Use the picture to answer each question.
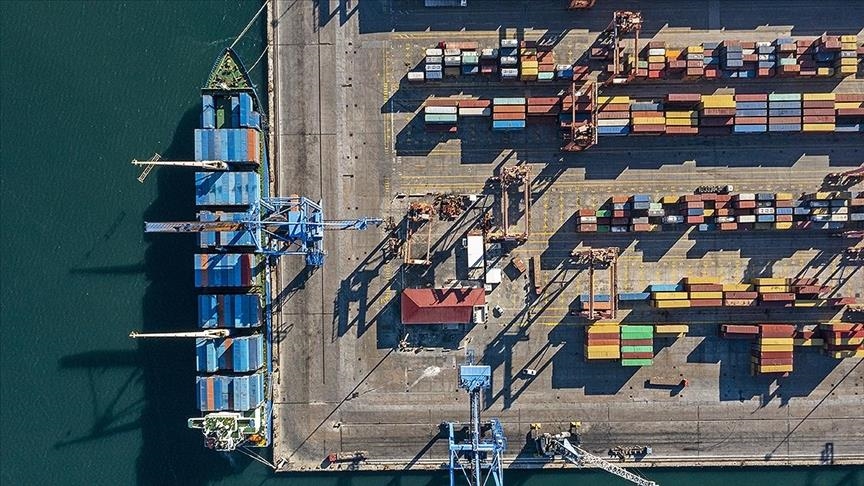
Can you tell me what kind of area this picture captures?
port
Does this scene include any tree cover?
No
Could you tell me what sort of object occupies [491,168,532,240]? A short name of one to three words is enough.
container crane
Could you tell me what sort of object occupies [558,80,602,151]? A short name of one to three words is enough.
container crane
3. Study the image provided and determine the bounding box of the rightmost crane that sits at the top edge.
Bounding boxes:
[597,8,643,81]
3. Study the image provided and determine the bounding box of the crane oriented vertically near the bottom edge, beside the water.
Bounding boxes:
[439,346,506,486]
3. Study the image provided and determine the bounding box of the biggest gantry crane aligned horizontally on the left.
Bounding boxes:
[143,194,380,261]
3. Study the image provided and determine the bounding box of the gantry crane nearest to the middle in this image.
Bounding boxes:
[402,211,438,265]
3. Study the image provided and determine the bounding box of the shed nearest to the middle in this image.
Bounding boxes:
[467,232,484,266]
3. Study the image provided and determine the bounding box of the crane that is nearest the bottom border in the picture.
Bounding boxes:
[532,422,660,486]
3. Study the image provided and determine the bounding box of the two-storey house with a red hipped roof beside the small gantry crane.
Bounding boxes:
[402,287,485,326]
